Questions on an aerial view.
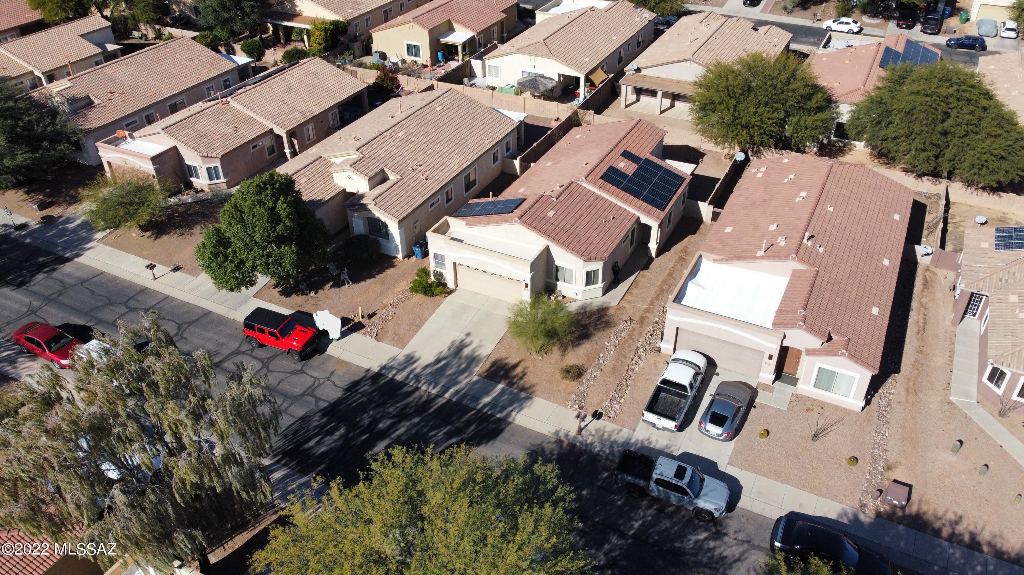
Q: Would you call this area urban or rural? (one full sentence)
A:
The area is urban.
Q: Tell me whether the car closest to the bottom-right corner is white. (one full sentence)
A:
No, the color of the car closest to the bottom-right corner is black.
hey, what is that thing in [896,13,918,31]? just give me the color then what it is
black car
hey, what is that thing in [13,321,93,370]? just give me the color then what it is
red car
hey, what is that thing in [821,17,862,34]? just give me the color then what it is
white car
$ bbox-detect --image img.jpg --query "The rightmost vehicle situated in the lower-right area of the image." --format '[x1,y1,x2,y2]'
[766,515,890,575]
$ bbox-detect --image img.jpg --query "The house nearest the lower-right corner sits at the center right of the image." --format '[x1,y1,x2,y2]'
[945,226,1024,421]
